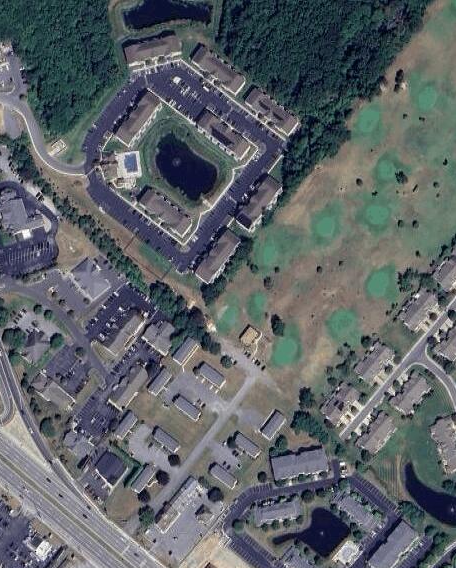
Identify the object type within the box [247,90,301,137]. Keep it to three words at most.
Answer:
building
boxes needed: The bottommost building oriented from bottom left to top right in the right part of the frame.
[369,521,419,568]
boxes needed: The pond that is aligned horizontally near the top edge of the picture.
[124,0,215,29]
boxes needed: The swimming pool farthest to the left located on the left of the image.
[113,150,142,188]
